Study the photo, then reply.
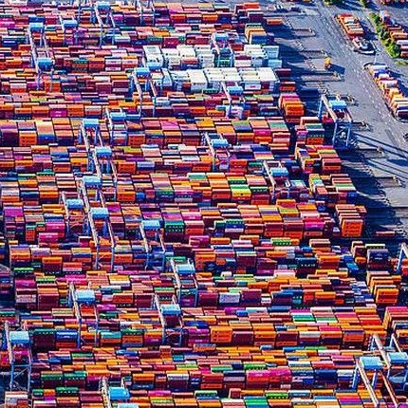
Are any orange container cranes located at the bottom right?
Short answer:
No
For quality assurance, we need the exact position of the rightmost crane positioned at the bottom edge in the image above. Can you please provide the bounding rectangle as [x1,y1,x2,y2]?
[375,334,408,391]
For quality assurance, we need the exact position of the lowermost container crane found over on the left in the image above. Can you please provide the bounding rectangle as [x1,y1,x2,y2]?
[103,377,132,408]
